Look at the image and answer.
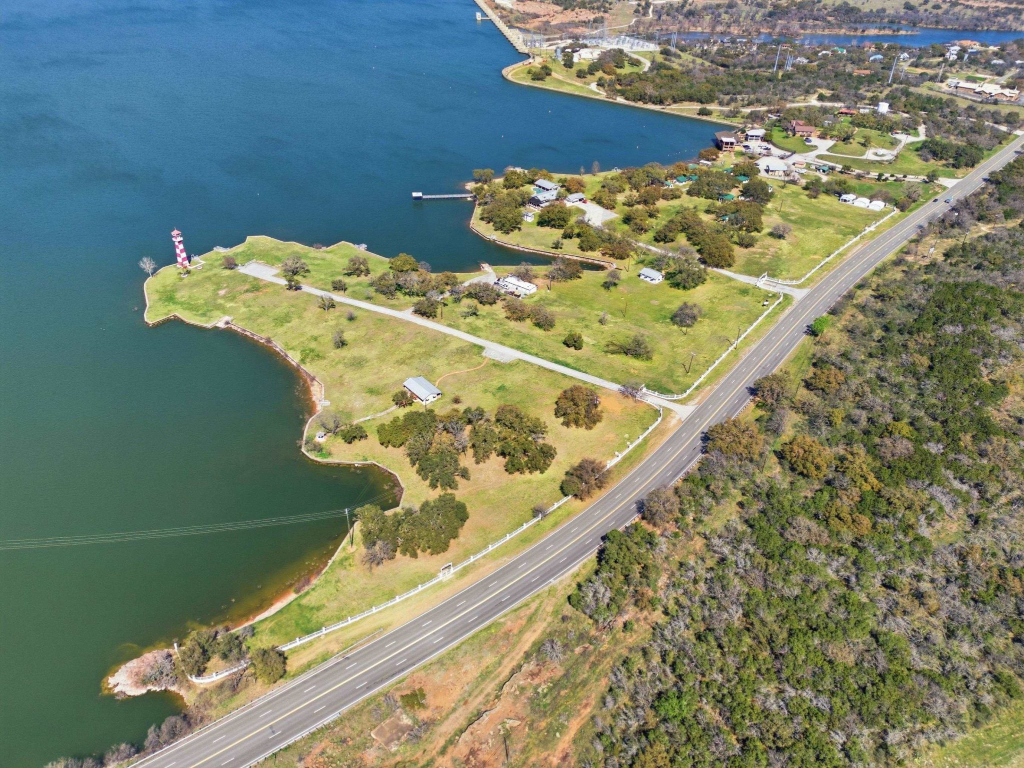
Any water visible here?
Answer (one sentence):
Yes, there is water in the image.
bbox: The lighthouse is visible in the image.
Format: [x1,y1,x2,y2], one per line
[170,229,190,268]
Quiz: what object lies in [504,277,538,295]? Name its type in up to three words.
shed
